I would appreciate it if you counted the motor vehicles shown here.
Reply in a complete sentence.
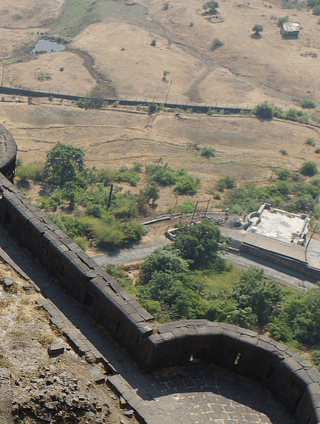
I count no motor vehicles.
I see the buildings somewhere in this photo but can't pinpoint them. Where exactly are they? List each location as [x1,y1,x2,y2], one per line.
[241,201,312,262]
[275,21,303,39]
